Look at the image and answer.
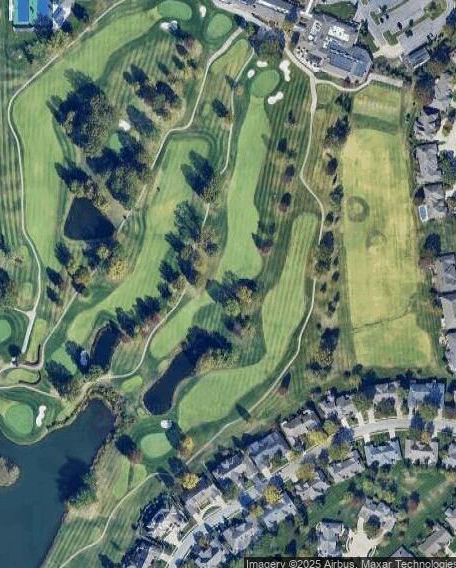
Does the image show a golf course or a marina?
golf course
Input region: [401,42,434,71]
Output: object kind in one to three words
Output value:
house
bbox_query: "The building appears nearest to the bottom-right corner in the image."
[418,530,451,559]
